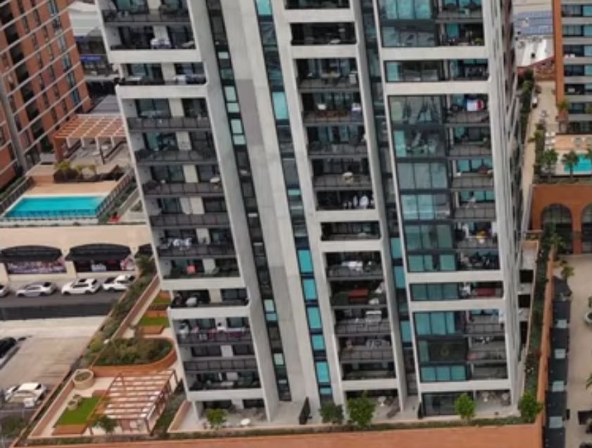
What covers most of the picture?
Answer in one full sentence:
The scene is dominated by buildings.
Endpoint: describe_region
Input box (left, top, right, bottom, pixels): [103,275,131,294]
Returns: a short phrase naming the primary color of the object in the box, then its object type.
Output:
white car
